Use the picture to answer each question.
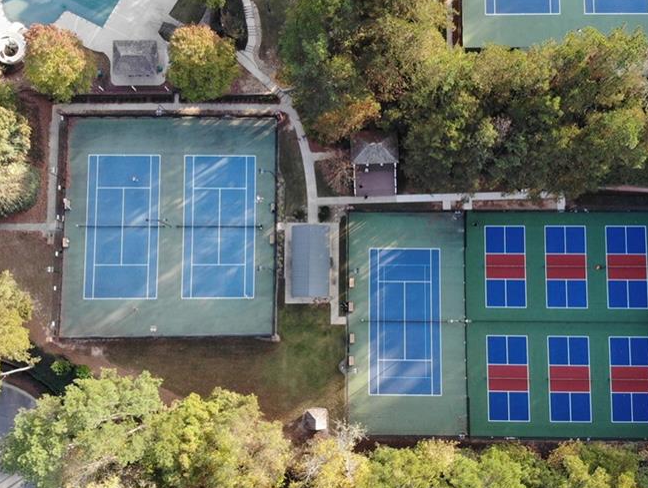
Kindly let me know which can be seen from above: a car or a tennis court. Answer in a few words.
tennis court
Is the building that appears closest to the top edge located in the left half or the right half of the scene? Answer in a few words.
left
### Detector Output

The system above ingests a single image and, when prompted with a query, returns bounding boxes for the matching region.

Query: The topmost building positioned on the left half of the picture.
[111,40,159,81]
